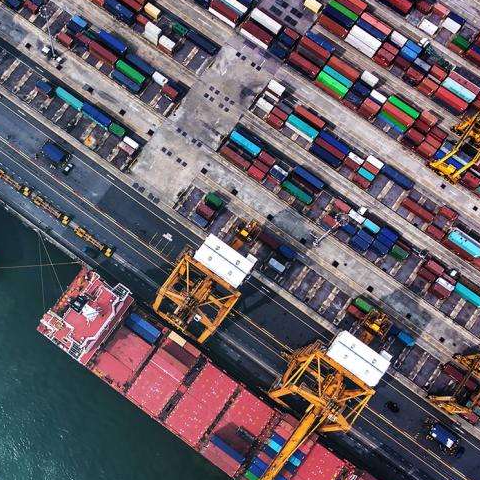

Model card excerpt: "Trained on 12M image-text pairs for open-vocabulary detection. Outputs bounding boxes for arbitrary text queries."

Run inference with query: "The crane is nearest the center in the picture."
[151,233,259,345]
